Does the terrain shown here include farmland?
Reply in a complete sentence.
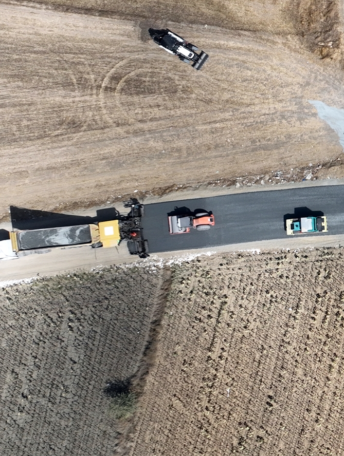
Yes, there's farmland in this view.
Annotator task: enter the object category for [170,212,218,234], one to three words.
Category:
work vehicle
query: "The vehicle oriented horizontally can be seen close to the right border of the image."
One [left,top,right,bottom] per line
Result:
[286,216,329,236]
